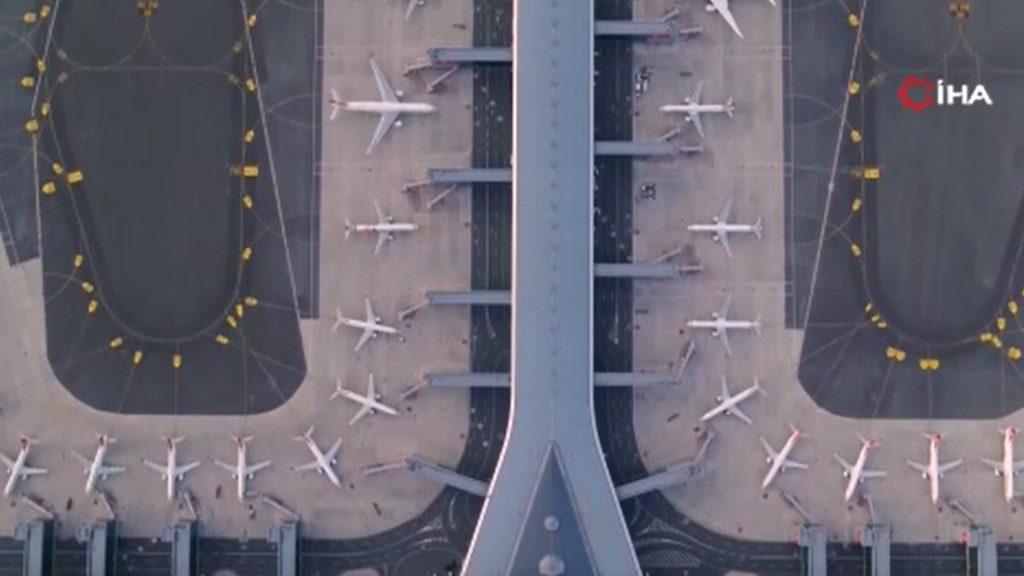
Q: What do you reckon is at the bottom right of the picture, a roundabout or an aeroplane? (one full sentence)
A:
Looking at the bottom right of the picture, you will find an aeroplane.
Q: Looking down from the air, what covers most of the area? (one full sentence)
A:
What you mostly see from above here is paved ground.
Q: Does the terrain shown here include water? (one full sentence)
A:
No, there's no water in this view.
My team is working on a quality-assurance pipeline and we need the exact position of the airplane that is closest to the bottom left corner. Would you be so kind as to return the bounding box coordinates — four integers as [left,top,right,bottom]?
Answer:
[0,435,42,497]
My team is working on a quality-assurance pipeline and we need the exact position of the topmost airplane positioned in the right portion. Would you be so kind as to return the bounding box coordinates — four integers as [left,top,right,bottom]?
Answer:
[708,0,746,35]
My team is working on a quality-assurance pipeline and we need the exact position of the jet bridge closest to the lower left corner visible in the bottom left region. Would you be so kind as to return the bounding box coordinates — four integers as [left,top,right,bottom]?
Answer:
[18,495,60,521]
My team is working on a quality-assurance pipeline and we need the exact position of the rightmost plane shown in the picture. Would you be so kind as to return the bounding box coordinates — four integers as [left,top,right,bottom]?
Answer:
[980,428,1024,504]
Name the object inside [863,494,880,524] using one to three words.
jet bridge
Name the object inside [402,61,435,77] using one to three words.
jet bridge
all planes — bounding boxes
[708,0,746,35]
[980,428,1024,504]
[73,433,122,495]
[761,425,812,489]
[407,0,424,15]
[142,437,196,503]
[907,433,965,504]
[294,427,342,487]
[329,371,399,426]
[214,436,268,503]
[659,76,736,137]
[0,435,42,497]
[345,199,418,257]
[333,299,399,352]
[700,374,769,426]
[686,294,762,355]
[687,198,763,258]
[837,436,889,501]
[329,55,435,151]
